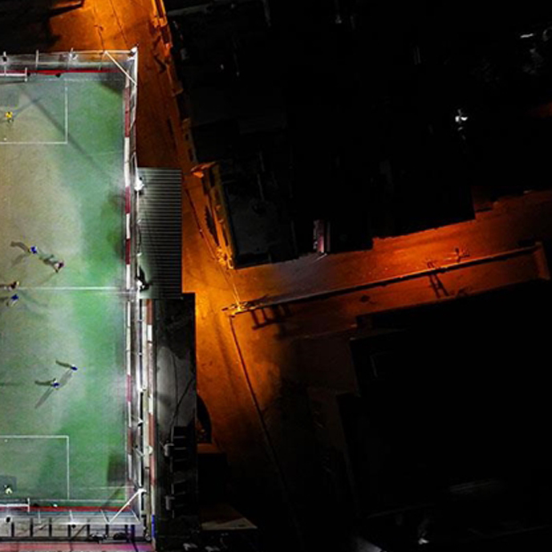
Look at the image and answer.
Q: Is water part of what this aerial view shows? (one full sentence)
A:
No, no water is visible.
